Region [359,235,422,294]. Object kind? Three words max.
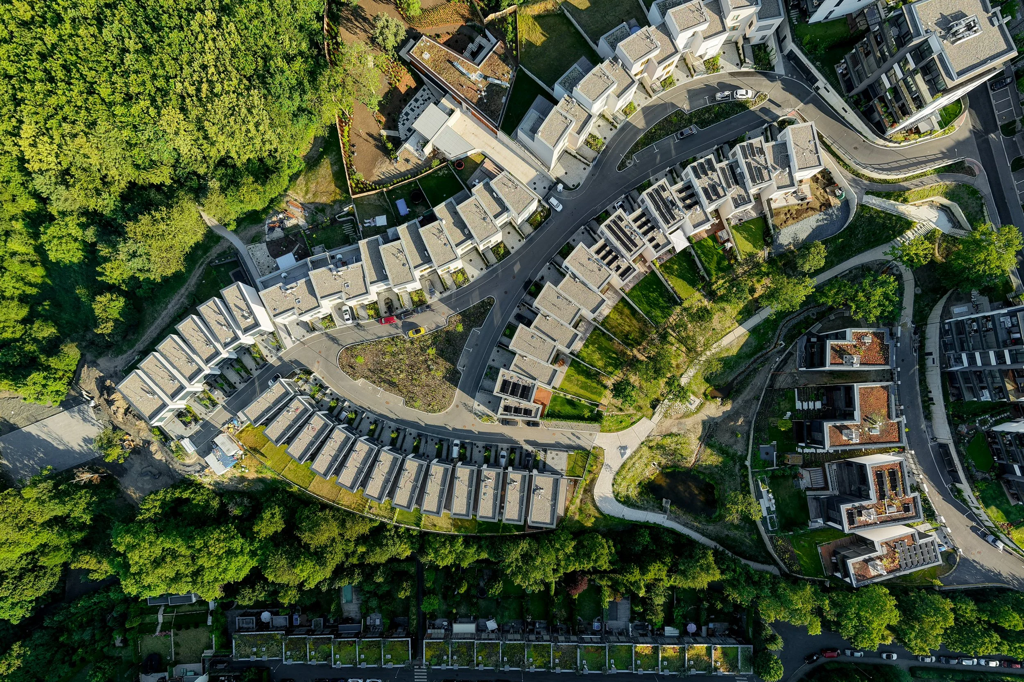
house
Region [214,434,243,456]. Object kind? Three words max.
shed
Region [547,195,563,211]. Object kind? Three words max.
car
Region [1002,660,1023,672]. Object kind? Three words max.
vehicle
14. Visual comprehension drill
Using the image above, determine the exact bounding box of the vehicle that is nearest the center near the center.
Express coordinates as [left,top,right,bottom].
[513,312,532,326]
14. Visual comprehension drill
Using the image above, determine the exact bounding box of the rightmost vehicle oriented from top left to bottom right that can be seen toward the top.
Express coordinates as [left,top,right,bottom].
[614,198,628,214]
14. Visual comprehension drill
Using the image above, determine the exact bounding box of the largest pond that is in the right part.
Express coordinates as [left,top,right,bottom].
[649,471,717,517]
